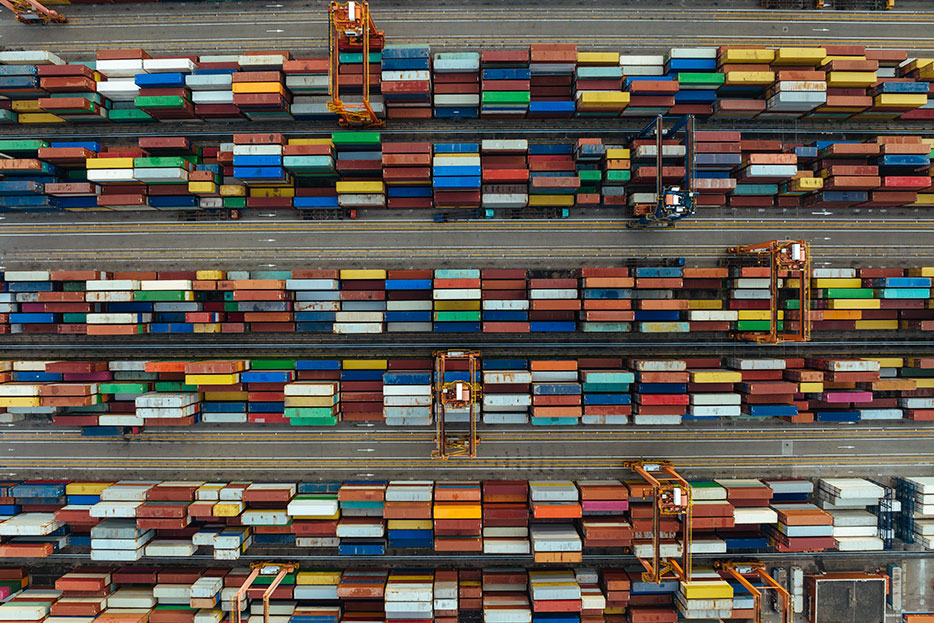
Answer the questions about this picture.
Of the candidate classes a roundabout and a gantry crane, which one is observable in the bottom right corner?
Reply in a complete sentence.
You can see a gantry crane in the bottom right corner.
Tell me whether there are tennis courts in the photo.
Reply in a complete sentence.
No, no tennis court is visible in the view.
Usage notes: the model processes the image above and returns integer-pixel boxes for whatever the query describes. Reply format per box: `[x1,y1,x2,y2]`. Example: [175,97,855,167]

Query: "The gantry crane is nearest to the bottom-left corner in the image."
[230,564,299,623]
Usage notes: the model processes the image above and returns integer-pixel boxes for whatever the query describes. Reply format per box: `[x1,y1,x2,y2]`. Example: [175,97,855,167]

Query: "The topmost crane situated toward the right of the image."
[628,112,698,227]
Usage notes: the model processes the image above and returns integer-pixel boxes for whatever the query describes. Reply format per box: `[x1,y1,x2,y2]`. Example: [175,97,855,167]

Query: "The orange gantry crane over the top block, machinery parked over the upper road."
[326,1,386,128]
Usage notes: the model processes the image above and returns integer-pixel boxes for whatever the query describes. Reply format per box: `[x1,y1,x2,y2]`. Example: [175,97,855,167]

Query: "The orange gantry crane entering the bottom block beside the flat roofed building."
[718,562,799,623]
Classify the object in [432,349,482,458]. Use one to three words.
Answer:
container crane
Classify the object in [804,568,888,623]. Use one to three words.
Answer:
building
